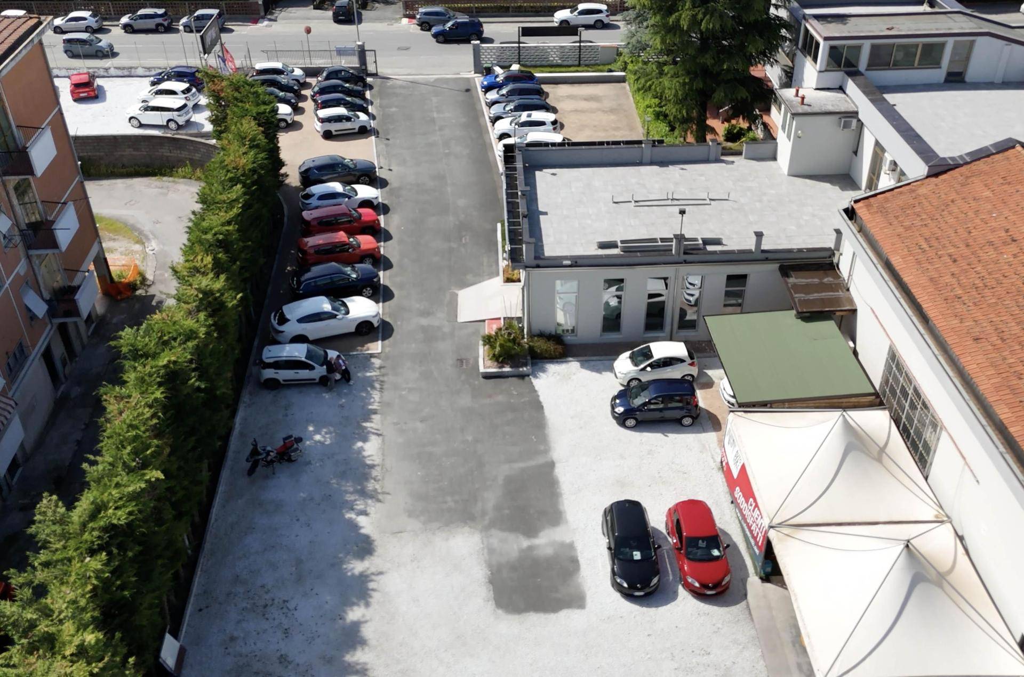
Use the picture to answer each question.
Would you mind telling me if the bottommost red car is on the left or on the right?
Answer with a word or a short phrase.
right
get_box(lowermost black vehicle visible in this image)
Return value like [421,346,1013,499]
[599,500,661,598]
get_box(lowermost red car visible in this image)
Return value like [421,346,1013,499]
[663,499,728,597]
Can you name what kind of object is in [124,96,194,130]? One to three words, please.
car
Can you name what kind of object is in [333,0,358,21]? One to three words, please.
car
